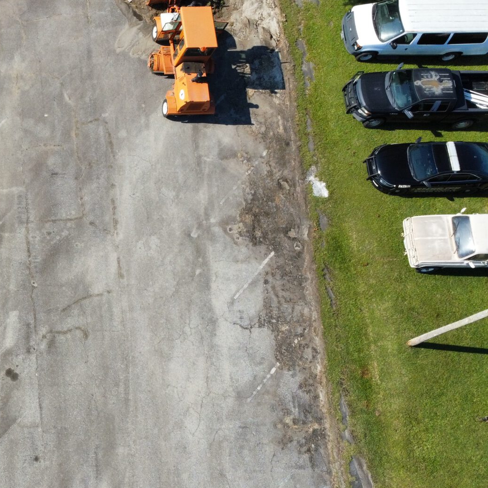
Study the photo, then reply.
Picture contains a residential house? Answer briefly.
No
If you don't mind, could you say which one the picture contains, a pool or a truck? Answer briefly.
truck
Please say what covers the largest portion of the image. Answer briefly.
paved ground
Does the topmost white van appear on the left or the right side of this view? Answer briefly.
right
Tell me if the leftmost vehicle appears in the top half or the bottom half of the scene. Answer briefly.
top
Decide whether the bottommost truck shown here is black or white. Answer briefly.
white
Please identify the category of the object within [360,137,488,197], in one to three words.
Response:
car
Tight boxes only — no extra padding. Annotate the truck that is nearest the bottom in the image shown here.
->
[396,207,488,272]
